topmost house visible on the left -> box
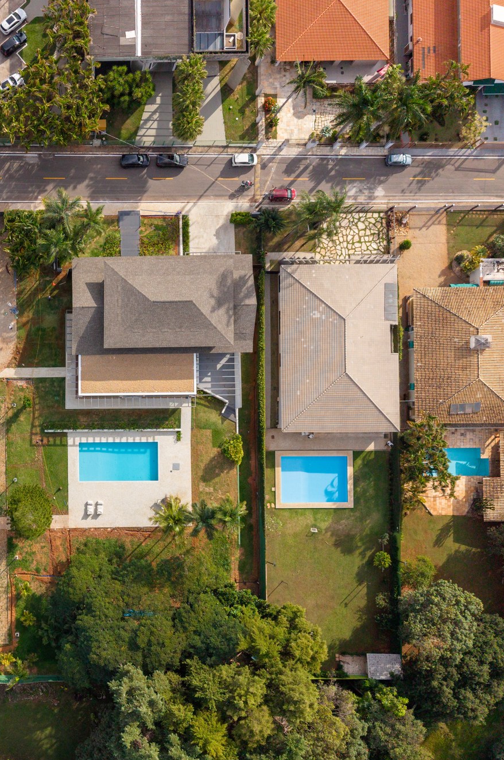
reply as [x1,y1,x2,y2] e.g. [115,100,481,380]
[86,0,250,93]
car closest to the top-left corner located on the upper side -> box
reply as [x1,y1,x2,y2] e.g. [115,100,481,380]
[0,9,29,33]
